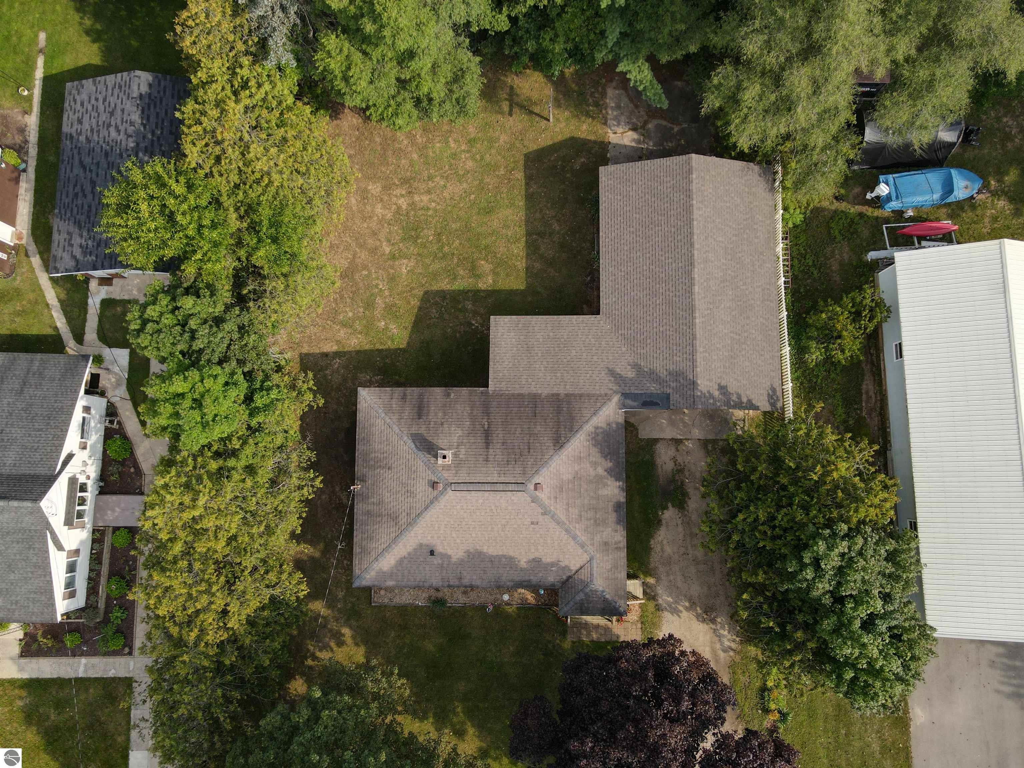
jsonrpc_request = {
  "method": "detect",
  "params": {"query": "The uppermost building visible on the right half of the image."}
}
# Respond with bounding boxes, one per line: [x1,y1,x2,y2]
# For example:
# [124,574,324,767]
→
[487,153,783,413]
